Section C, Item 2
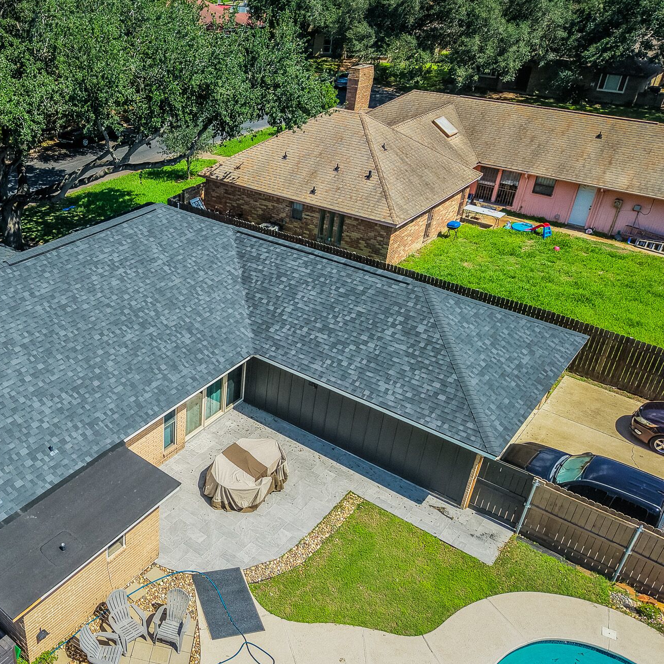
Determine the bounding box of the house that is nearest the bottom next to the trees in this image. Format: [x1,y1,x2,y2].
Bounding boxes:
[0,201,592,663]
